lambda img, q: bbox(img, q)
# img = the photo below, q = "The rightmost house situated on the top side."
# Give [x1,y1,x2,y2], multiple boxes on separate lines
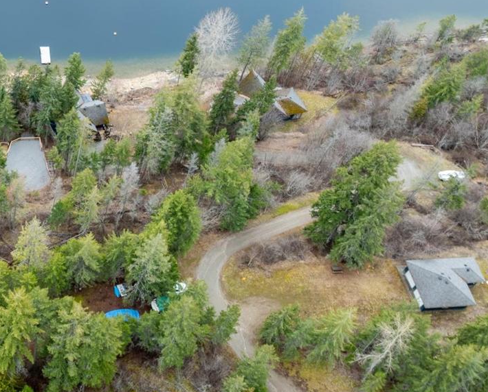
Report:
[276,90,307,124]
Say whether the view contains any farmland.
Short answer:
No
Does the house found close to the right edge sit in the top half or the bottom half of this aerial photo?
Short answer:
bottom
